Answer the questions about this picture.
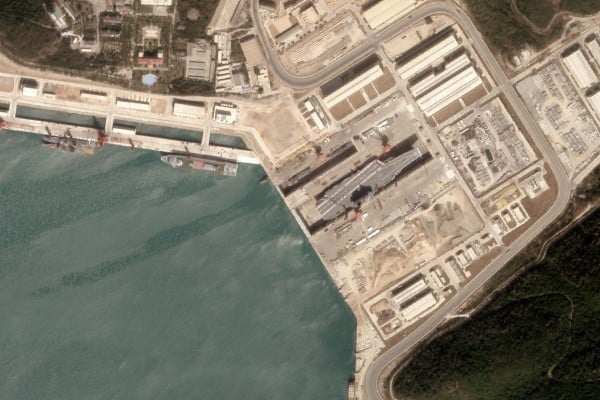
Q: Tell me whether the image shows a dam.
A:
No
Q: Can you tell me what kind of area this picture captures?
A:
port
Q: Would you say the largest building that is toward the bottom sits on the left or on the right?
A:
right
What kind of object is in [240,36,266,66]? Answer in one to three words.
building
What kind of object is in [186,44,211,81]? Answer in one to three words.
building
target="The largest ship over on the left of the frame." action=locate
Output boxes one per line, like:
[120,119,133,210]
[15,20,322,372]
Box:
[161,155,238,175]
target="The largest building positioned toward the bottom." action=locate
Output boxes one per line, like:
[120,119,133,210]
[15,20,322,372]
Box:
[400,291,438,320]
